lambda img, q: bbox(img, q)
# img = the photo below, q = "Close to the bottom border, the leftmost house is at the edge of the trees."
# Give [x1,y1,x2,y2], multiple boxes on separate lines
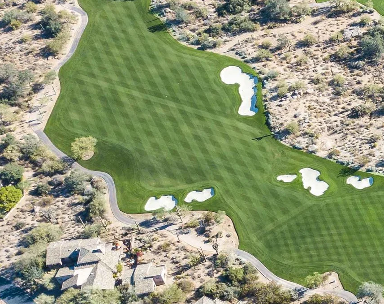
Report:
[46,237,123,296]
